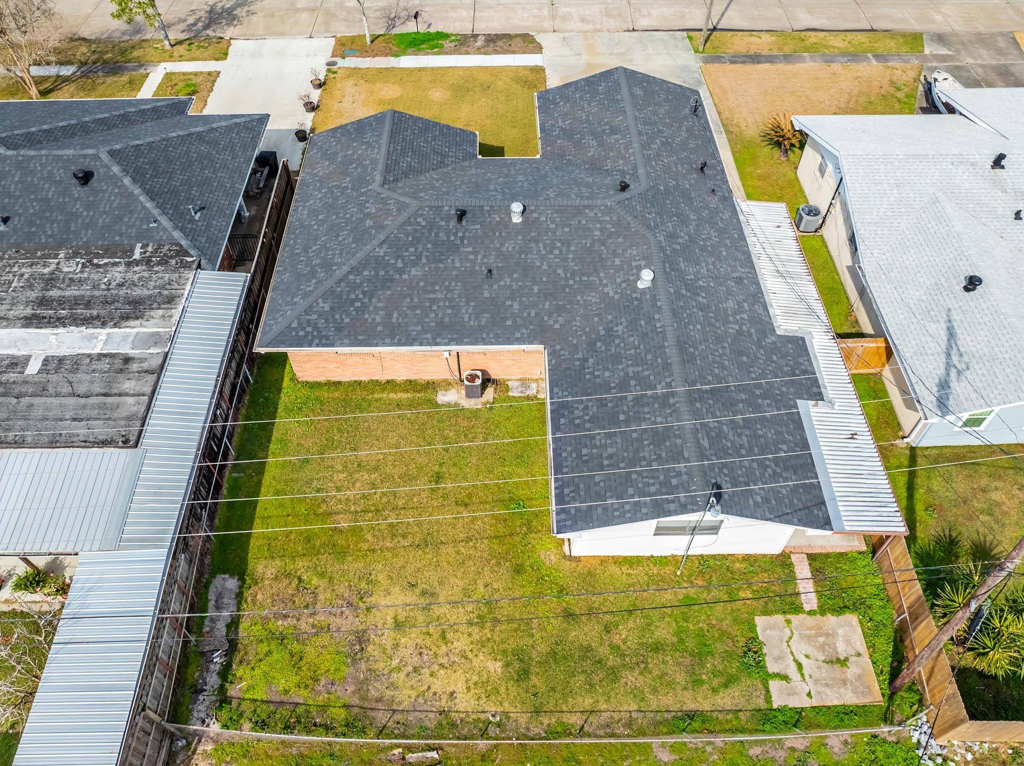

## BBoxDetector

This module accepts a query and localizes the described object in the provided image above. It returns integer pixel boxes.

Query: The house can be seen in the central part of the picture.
[252,63,835,557]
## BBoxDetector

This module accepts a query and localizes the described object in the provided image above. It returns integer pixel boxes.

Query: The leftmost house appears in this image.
[0,97,271,455]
